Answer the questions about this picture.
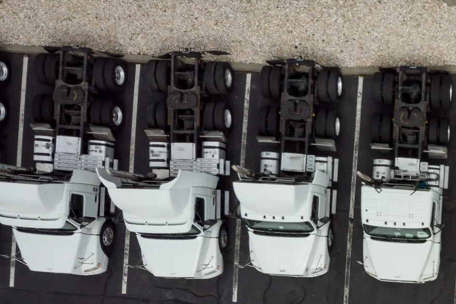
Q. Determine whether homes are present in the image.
No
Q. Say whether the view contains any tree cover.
No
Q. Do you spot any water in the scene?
No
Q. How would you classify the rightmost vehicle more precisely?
truck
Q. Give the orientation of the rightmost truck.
vertically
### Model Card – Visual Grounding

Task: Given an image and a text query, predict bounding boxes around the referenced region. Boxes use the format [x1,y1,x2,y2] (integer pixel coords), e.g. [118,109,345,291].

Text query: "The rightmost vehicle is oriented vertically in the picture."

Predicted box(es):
[348,61,453,285]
